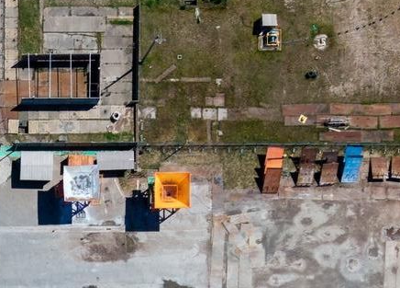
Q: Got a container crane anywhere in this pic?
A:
No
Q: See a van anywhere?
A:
No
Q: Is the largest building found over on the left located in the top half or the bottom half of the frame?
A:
top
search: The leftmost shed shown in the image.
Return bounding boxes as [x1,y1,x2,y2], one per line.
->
[18,151,53,182]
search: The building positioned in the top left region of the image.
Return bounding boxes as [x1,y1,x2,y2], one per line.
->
[24,53,100,102]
